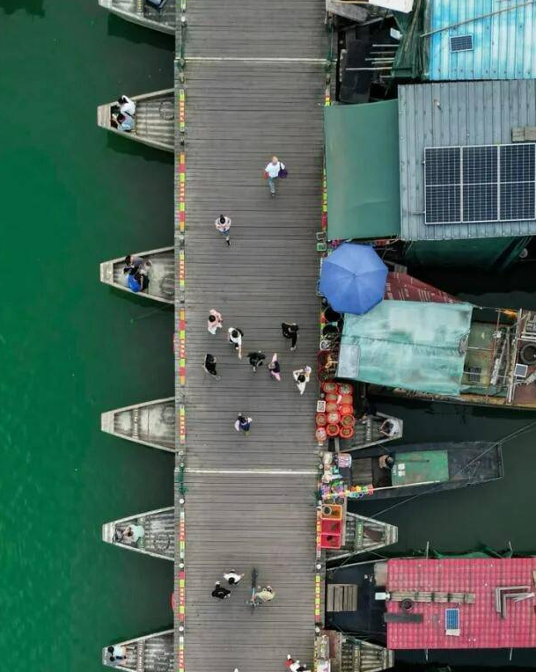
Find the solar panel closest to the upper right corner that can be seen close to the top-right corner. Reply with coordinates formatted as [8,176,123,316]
[448,34,473,52]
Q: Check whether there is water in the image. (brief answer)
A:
Yes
